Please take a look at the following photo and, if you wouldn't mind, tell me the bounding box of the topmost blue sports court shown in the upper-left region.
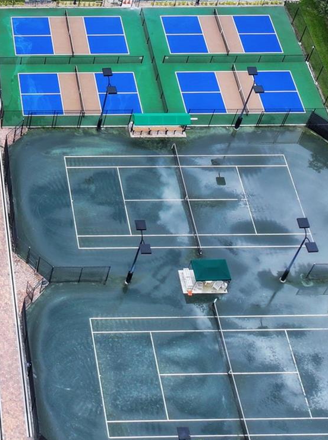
[11,10,130,57]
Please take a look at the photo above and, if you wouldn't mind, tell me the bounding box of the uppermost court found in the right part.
[160,8,284,54]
